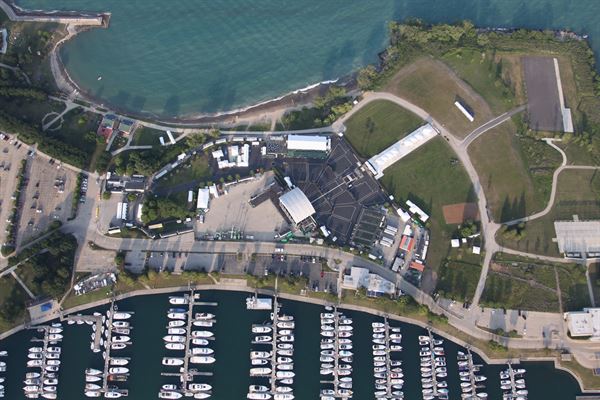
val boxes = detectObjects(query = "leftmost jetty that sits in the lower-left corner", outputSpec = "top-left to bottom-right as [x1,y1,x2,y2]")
[21,322,63,395]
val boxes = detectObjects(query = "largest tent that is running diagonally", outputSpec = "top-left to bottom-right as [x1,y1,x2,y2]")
[363,121,438,175]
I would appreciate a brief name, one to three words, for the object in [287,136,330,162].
building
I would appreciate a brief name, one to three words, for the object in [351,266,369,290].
building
